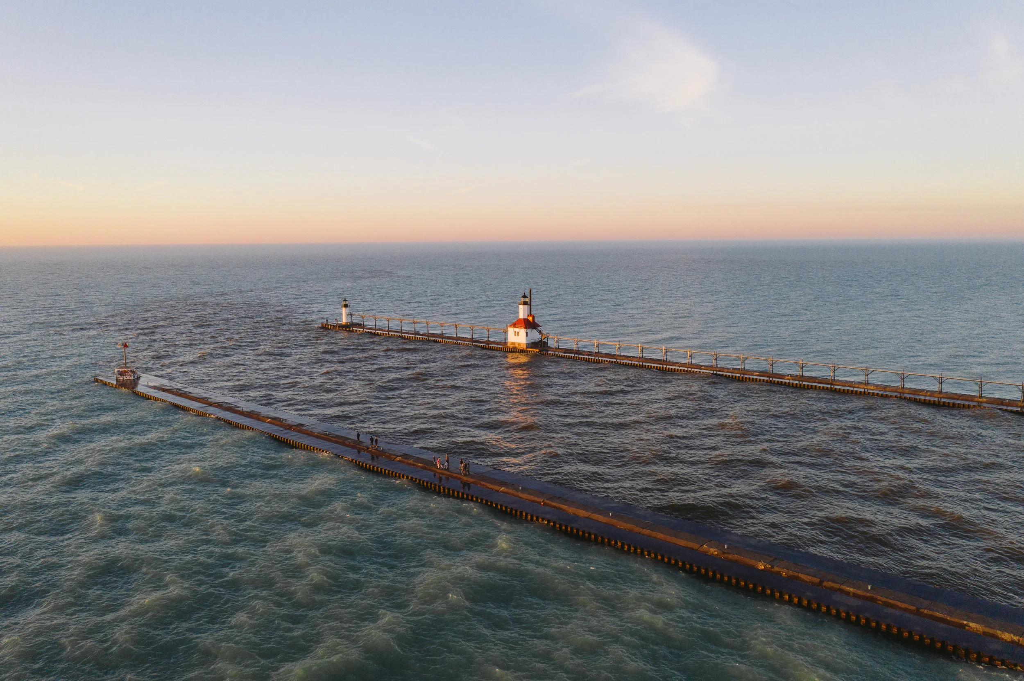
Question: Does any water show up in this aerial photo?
Yes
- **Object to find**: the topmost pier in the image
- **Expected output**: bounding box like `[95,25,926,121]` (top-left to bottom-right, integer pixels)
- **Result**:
[321,322,1024,416]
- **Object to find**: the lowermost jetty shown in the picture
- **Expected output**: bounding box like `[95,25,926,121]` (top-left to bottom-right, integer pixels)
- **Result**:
[94,374,1024,678]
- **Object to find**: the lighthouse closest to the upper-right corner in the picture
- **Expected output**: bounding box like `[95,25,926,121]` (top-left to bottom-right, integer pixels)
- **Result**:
[504,289,554,348]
